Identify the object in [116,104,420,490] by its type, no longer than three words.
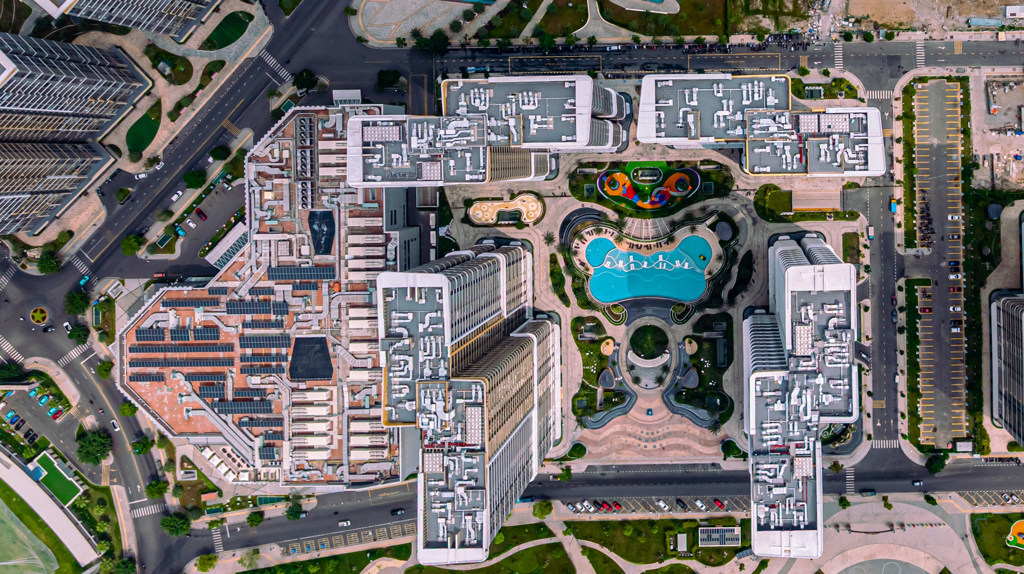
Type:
building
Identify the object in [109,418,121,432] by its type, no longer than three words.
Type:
vehicle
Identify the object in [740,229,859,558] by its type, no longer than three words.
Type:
building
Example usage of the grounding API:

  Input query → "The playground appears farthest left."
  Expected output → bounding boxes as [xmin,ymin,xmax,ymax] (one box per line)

[468,194,543,223]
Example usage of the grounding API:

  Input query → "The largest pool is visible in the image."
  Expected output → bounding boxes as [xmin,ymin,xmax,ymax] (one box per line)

[564,217,730,311]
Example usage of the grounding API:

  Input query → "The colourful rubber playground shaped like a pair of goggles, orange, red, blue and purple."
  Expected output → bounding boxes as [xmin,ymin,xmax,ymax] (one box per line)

[596,160,700,212]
